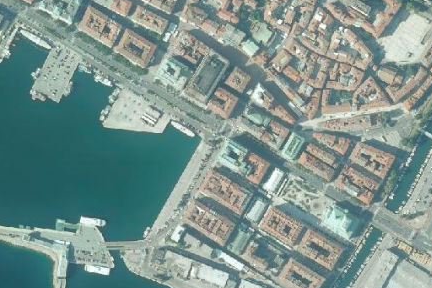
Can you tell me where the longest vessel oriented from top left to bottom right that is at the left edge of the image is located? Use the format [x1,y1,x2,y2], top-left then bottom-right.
[19,27,50,47]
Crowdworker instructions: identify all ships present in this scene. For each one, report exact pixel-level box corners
[80,215,106,225]
[172,122,193,136]
[84,264,110,275]
[19,27,50,47]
